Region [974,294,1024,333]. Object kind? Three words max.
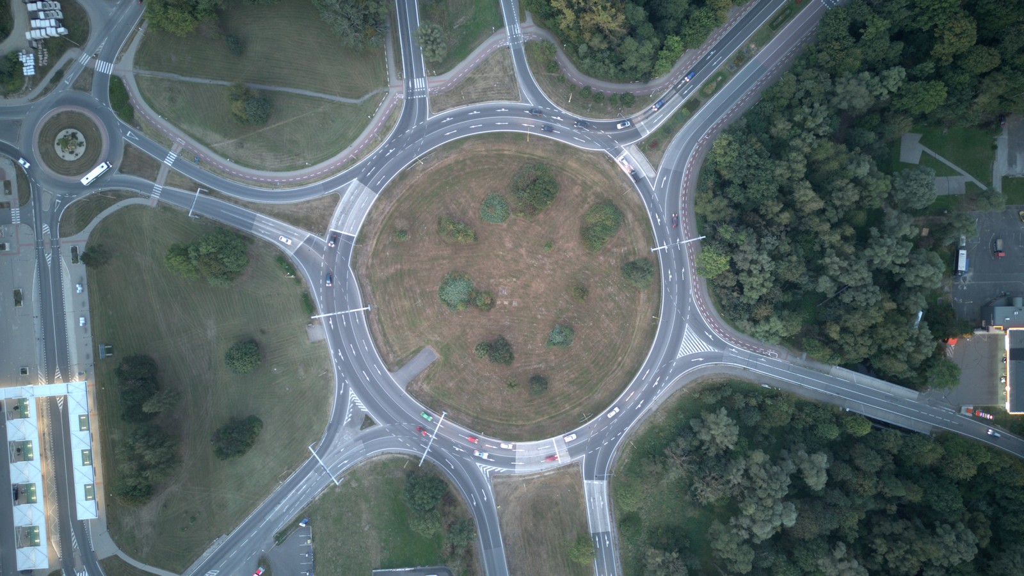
building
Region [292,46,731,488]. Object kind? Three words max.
roundabout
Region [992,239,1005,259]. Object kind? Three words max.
vehicle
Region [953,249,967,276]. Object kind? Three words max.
vehicle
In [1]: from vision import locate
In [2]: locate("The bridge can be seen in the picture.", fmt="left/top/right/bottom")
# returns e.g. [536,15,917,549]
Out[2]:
[830,357,937,437]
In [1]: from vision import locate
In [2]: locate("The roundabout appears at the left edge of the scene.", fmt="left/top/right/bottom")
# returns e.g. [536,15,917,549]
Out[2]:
[17,88,123,201]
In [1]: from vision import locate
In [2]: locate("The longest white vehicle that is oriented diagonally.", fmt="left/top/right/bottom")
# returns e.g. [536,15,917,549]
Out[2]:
[79,159,115,188]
